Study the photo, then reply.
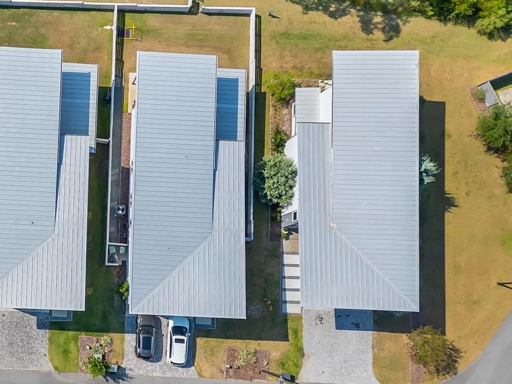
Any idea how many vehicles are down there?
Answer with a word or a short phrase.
two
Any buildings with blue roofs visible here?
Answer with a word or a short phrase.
No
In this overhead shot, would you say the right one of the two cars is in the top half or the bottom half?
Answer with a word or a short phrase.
bottom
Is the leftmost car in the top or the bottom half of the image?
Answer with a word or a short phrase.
bottom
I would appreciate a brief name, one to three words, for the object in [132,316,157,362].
car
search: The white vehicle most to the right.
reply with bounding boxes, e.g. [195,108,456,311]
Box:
[164,317,190,366]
